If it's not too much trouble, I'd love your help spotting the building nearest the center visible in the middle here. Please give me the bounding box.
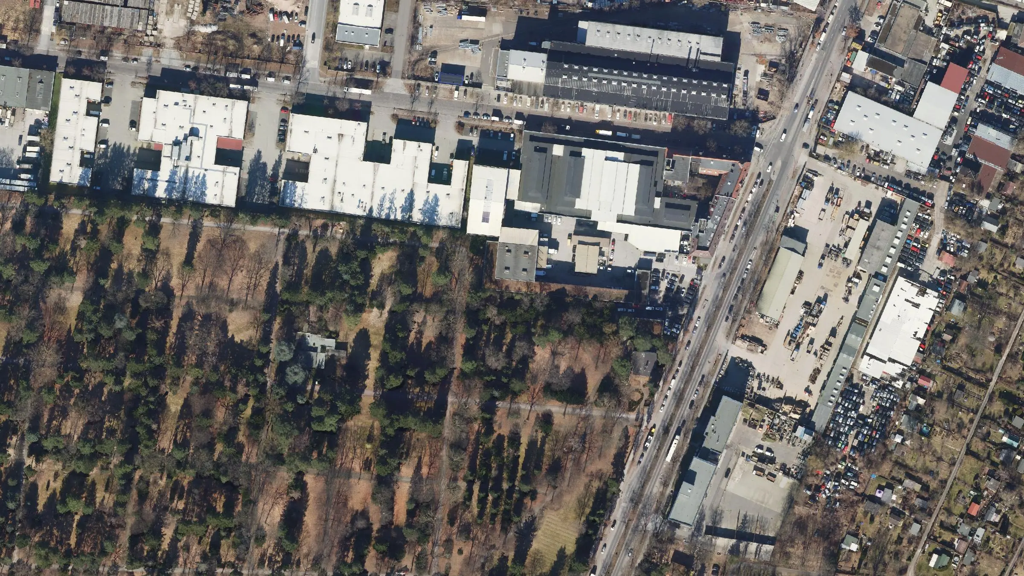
[496,227,548,282]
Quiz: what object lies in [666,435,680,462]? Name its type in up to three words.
vehicle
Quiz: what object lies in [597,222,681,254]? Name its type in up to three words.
shed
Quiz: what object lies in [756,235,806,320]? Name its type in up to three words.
barn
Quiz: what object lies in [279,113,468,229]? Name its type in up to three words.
building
